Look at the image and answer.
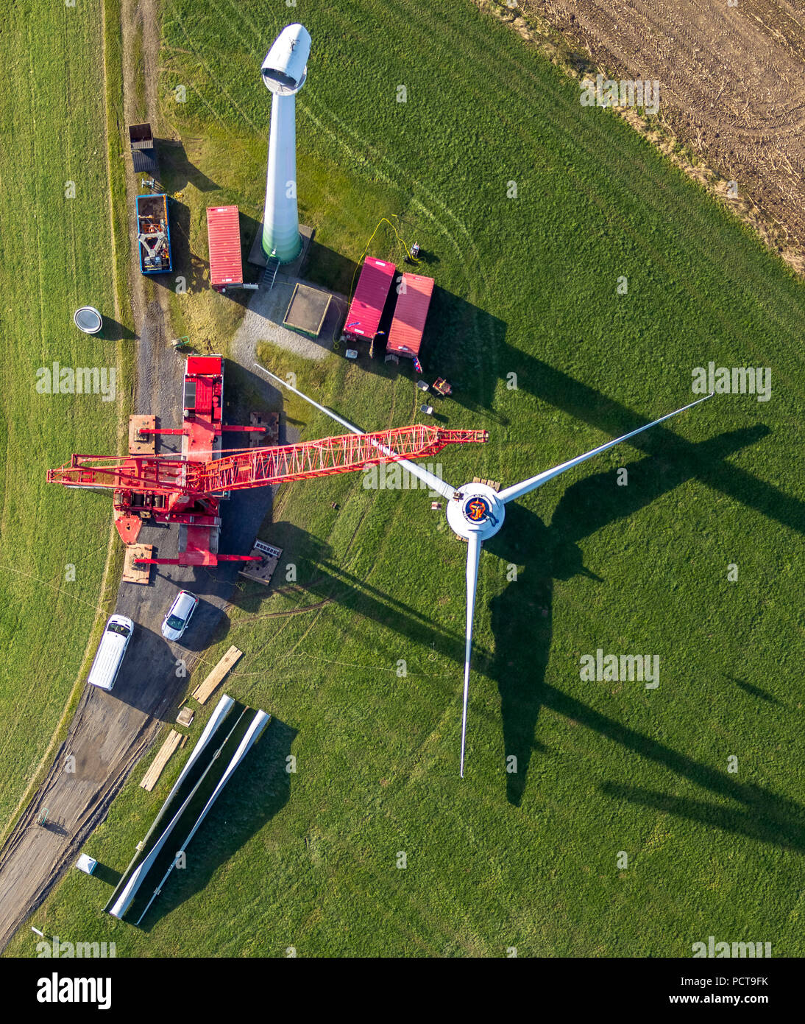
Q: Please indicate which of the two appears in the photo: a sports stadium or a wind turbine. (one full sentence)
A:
I can see a wind turbine in this picture.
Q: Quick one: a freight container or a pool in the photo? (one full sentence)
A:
It is a freight container that can be seen here.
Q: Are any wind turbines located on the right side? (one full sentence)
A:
No, looking on the right side, there is no wind turbine.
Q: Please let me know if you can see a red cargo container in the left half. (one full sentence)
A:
Yes, the scene does show a red cargo container in the left half.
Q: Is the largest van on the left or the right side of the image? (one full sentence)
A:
You can find the largest van on the left side of the picture.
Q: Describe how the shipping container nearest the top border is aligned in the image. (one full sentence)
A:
The shipping container nearest the top border has been laid out up and down relative to the frame.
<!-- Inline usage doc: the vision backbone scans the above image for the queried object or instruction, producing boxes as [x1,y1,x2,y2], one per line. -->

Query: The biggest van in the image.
[89,615,133,691]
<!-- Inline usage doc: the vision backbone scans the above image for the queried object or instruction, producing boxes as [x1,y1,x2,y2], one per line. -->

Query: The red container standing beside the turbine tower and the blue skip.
[207,206,243,292]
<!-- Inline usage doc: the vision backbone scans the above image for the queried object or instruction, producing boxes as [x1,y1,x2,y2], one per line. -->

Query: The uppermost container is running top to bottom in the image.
[129,122,157,173]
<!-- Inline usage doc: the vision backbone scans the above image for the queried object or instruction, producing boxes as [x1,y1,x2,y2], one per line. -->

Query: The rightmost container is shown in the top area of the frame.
[386,272,435,361]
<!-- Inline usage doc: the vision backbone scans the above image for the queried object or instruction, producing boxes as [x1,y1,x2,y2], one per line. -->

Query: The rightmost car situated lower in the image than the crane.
[162,587,200,641]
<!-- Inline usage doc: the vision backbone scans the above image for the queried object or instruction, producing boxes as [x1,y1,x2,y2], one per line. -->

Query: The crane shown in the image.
[47,349,491,569]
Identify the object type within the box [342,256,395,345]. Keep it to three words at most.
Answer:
shipping container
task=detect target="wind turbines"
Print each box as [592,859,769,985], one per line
[258,21,311,267]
